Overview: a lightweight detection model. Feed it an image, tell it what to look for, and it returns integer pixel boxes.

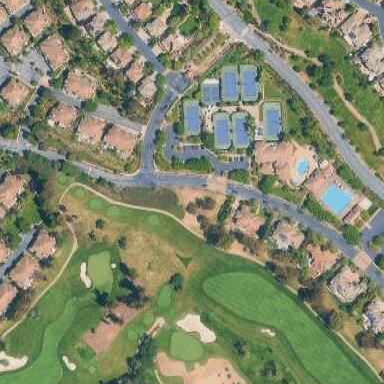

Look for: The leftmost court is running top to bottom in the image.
[184,99,201,136]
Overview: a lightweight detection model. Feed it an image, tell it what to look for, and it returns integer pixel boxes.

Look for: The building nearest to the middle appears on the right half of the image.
[227,201,268,237]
